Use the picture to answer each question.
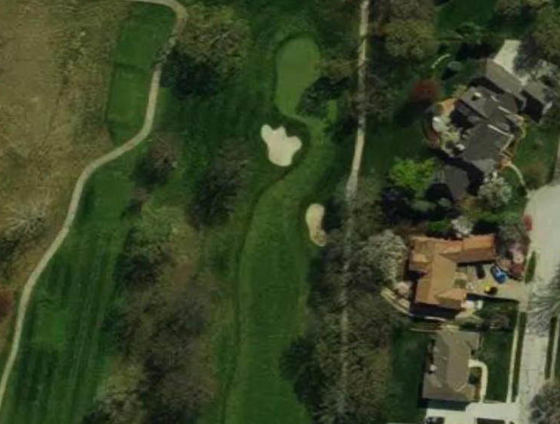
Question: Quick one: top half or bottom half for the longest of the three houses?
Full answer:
The top half of the photo is where the longest of the three houses is.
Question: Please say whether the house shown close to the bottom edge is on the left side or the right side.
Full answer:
You can find the house shown close to the bottom edge on the right side of the picture.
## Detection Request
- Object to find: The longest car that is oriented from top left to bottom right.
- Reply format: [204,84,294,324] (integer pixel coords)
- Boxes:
[490,266,506,283]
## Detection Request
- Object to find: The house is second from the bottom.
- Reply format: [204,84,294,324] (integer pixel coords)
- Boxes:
[410,235,497,311]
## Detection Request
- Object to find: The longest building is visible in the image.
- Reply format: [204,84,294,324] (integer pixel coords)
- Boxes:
[438,53,559,200]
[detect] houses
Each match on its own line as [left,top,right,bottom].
[410,235,497,311]
[421,329,482,404]
[438,53,559,200]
